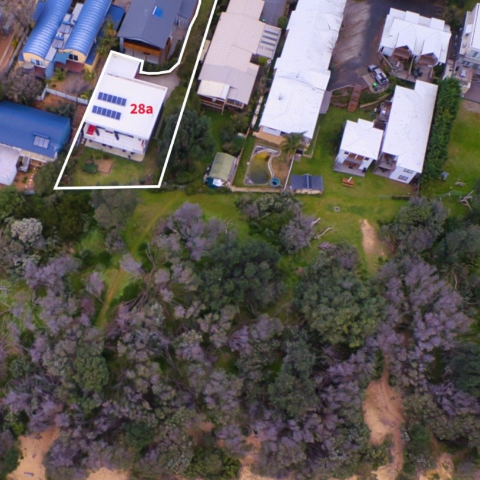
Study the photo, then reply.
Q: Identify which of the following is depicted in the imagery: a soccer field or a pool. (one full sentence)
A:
This aerial view contains a pool.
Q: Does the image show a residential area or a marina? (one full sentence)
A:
This looks like a residential area.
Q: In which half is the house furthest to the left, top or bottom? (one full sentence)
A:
You can find the house furthest to the left in the top half.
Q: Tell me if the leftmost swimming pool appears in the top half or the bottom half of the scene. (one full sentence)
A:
The leftmost swimming pool is in the top half of the image.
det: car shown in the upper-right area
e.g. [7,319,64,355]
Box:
[366,65,392,84]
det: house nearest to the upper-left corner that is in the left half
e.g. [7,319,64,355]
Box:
[19,0,126,87]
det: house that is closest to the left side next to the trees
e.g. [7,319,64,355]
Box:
[0,104,71,186]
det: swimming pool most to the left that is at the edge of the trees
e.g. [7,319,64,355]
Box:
[244,145,280,185]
